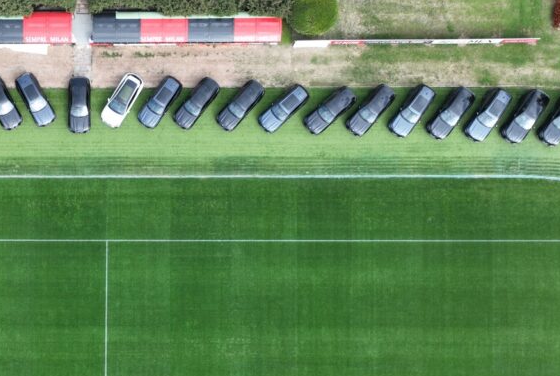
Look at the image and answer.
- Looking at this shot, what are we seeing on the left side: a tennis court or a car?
car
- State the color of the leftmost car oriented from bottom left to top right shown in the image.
white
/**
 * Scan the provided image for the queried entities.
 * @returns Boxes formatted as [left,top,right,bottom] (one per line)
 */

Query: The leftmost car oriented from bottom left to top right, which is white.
[101,73,144,130]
